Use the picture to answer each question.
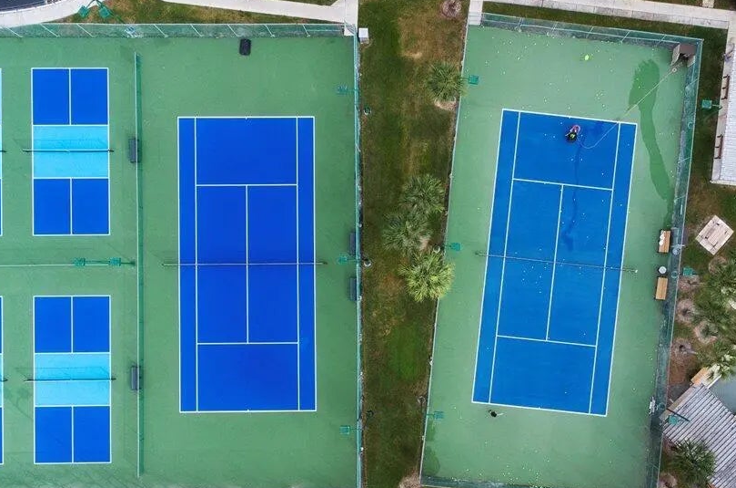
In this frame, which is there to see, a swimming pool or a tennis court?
tennis court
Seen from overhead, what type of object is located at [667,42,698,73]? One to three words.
shed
